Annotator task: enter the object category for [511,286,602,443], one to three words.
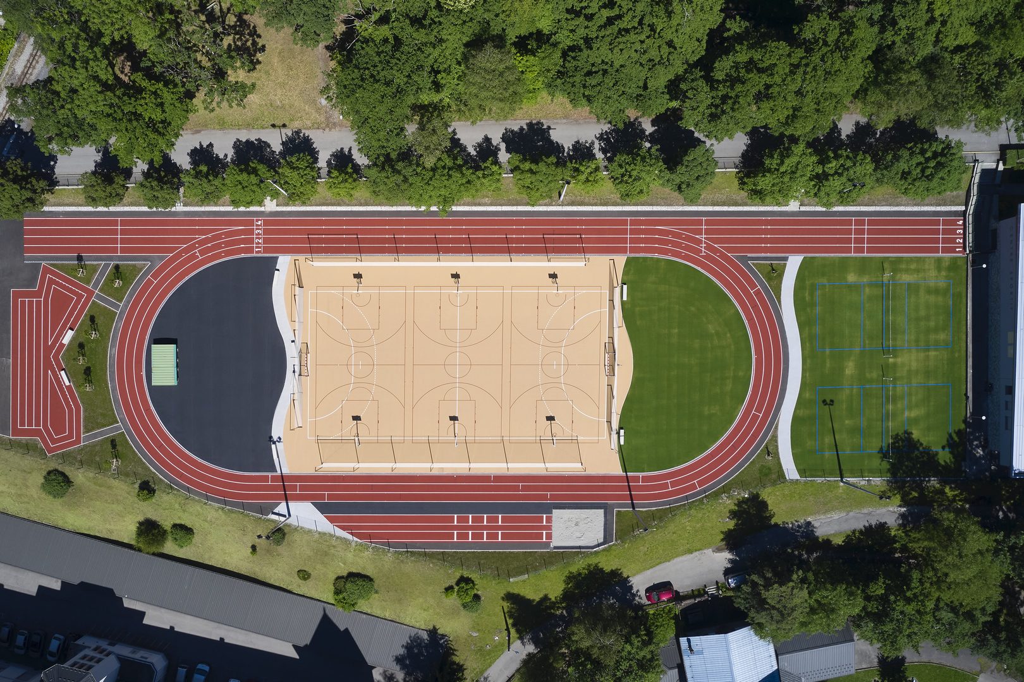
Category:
basketball court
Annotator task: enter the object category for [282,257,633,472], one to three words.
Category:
sports court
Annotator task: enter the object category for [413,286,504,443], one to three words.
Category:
basketball court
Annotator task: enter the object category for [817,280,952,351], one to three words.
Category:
sports court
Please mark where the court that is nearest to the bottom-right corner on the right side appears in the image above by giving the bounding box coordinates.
[817,384,952,454]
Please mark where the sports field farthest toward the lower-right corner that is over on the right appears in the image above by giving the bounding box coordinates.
[790,256,967,478]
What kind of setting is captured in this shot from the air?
sports ground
